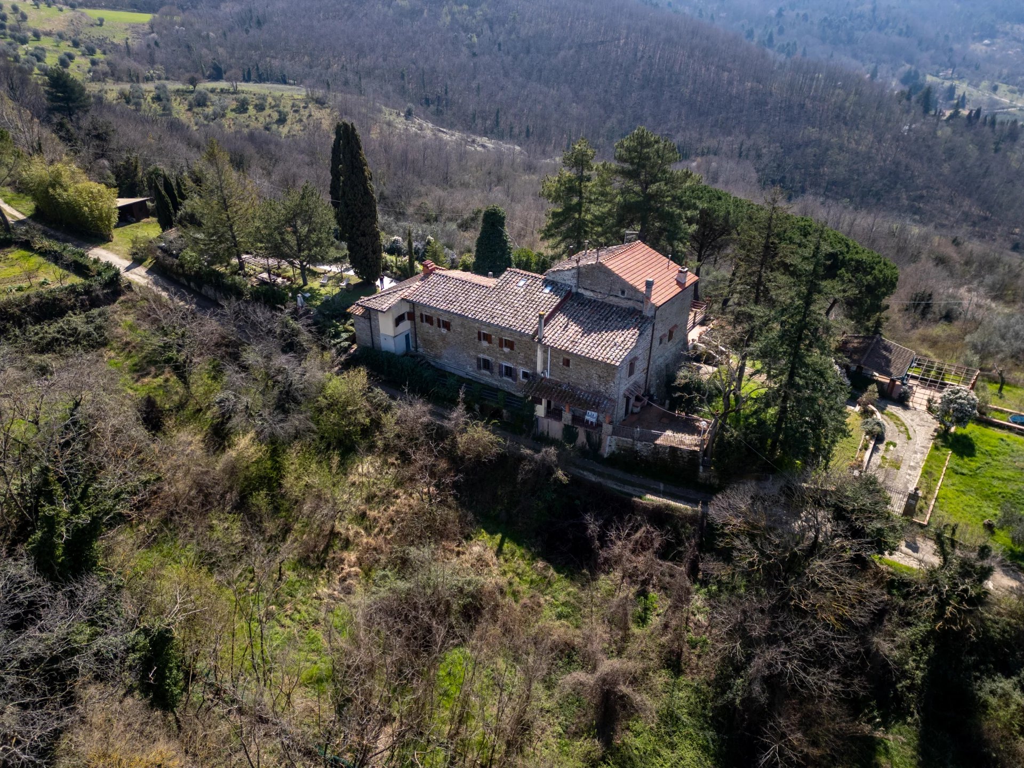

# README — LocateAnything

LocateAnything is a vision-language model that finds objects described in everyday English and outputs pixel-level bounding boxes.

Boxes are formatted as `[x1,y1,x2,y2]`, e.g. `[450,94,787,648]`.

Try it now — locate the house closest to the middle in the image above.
[345,231,702,469]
